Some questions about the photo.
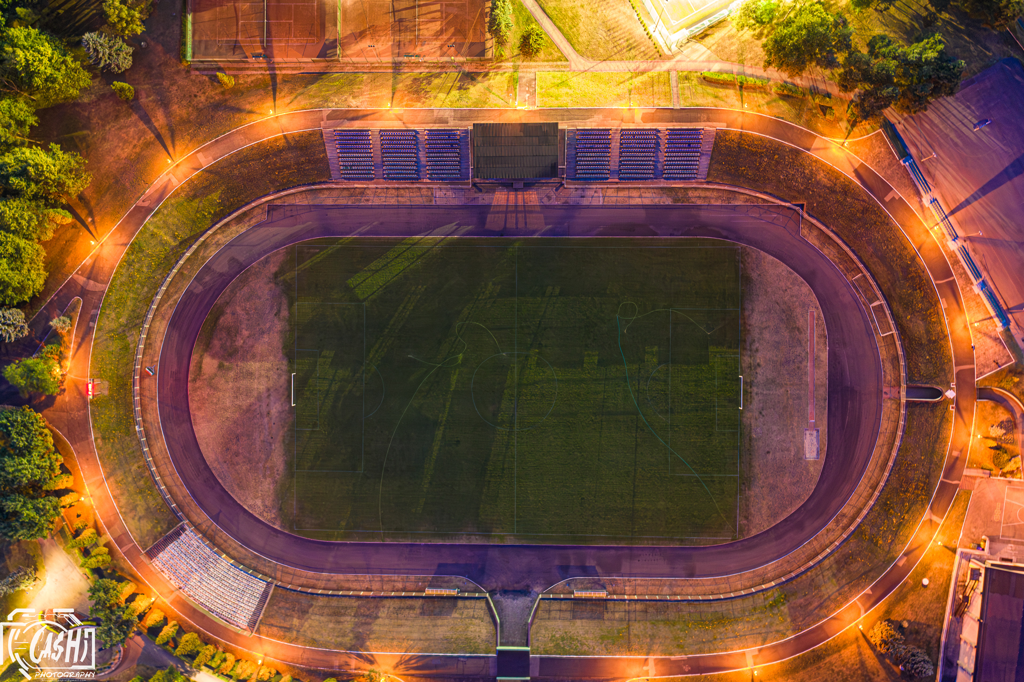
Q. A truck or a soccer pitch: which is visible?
soccer pitch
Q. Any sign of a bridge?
Yes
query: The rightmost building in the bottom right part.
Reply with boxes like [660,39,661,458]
[938,536,1024,682]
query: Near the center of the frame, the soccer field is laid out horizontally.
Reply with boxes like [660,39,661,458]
[188,237,827,547]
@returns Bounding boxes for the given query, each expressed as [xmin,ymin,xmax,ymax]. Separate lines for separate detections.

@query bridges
[497,644,530,680]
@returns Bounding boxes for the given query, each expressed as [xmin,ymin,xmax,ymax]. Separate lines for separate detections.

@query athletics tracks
[157,204,884,592]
